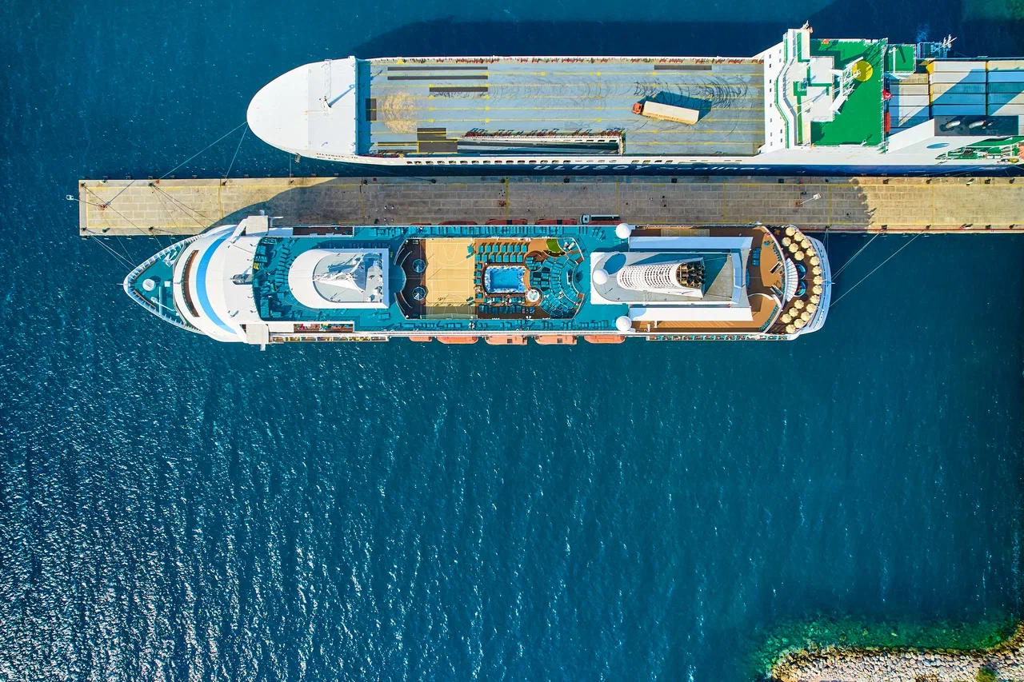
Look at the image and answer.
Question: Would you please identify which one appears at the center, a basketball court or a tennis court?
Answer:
basketball court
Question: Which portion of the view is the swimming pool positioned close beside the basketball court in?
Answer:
center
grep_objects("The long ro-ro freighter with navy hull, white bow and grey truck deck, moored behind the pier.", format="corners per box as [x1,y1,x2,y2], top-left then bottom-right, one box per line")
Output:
[248,14,1024,176]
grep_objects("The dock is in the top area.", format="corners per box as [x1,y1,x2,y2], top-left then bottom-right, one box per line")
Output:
[79,175,1024,238]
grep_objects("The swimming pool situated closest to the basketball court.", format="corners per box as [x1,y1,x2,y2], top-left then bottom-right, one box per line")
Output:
[482,263,529,296]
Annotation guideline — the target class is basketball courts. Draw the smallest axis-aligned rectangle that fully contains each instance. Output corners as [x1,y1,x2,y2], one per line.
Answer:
[426,241,475,315]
